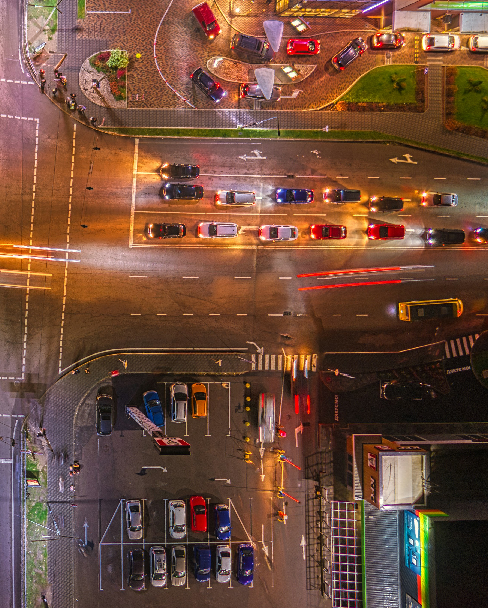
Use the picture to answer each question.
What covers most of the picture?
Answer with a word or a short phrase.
paved ground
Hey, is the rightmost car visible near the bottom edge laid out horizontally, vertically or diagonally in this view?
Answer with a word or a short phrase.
vertically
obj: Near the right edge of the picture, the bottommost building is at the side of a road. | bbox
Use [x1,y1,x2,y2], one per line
[347,433,488,608]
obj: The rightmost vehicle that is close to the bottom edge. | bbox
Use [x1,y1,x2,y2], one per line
[234,542,255,584]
